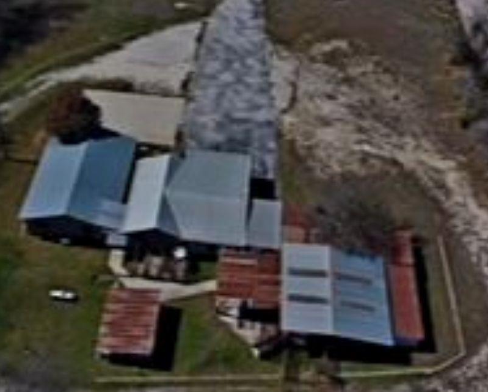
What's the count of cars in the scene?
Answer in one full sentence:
I count no cars.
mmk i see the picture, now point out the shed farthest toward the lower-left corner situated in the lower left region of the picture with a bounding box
[93,287,162,375]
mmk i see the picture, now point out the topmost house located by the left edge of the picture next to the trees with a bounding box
[17,130,141,268]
